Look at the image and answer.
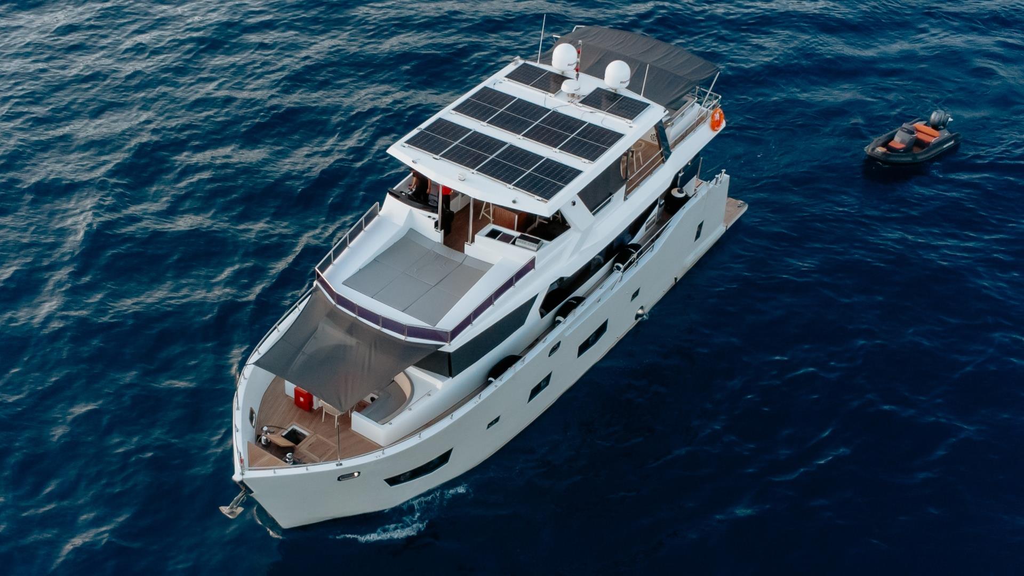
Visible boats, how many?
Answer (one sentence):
There are 2 boats in the image.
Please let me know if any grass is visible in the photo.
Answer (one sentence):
No, no grass is visible.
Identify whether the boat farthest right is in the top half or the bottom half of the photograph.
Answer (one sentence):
It is in the top half that the boat farthest right appears.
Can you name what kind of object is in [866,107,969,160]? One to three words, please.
boat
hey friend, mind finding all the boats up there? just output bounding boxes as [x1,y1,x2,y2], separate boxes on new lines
[220,16,744,526]
[866,107,969,160]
